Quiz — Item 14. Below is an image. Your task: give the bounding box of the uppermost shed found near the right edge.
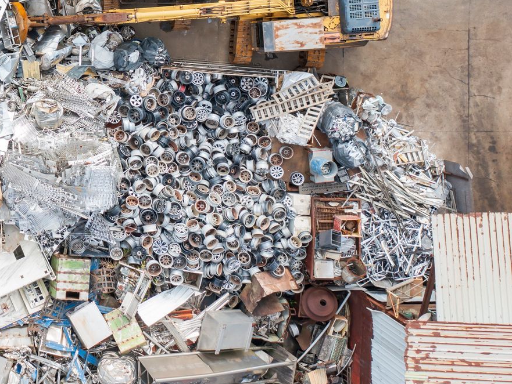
[431,212,512,324]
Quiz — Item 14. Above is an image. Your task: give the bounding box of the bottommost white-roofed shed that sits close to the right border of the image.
[404,321,512,384]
